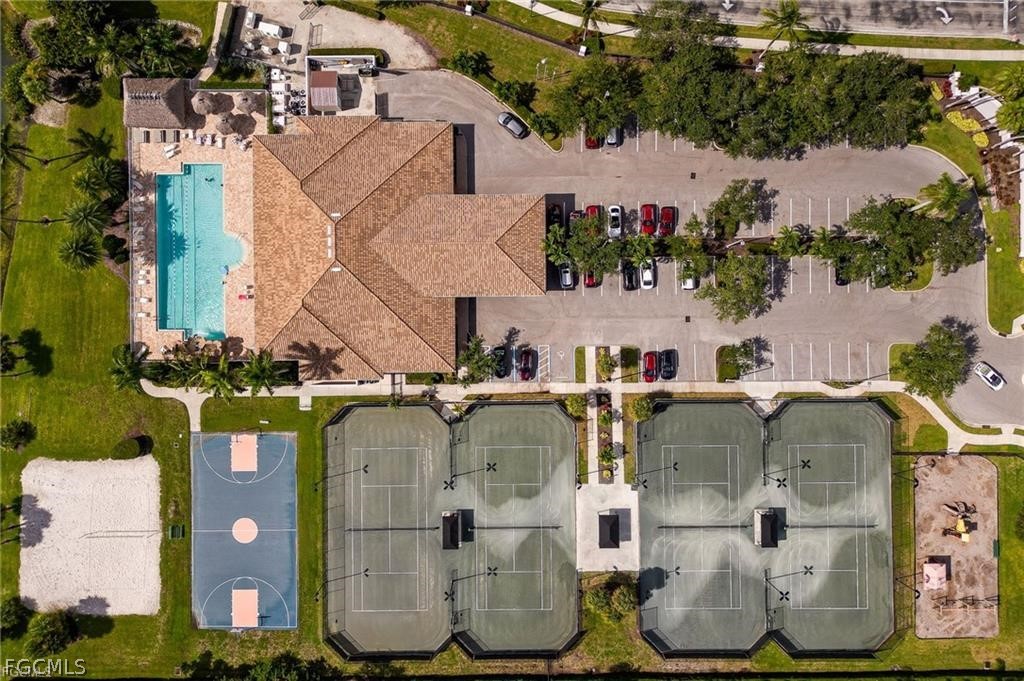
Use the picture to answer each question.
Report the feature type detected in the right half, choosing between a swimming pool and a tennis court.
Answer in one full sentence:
The feature located in the right half is a tennis court.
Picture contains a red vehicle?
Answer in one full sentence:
Yes, a red vehicle can be made out from above.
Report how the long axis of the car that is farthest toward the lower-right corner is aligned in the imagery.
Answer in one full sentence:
I'd say the car that is farthest toward the lower-right corner is aligned at an angle in the picture.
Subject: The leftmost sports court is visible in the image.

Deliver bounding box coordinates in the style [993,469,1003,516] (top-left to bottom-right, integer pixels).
[18,455,160,614]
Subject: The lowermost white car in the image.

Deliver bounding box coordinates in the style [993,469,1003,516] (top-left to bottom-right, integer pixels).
[975,362,1009,391]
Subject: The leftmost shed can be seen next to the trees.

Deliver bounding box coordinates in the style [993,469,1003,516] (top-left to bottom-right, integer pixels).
[119,75,189,132]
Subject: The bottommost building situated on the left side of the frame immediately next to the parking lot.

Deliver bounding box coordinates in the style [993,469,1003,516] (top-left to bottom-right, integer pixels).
[250,115,545,384]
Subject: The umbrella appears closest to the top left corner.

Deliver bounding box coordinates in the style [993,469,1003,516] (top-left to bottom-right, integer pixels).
[188,89,217,117]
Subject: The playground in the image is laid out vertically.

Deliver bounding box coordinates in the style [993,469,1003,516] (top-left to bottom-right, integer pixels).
[915,456,999,640]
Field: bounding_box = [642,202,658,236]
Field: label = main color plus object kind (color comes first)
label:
red car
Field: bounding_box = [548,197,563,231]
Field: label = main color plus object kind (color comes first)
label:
black car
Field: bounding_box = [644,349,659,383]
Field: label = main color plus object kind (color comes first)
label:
red car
